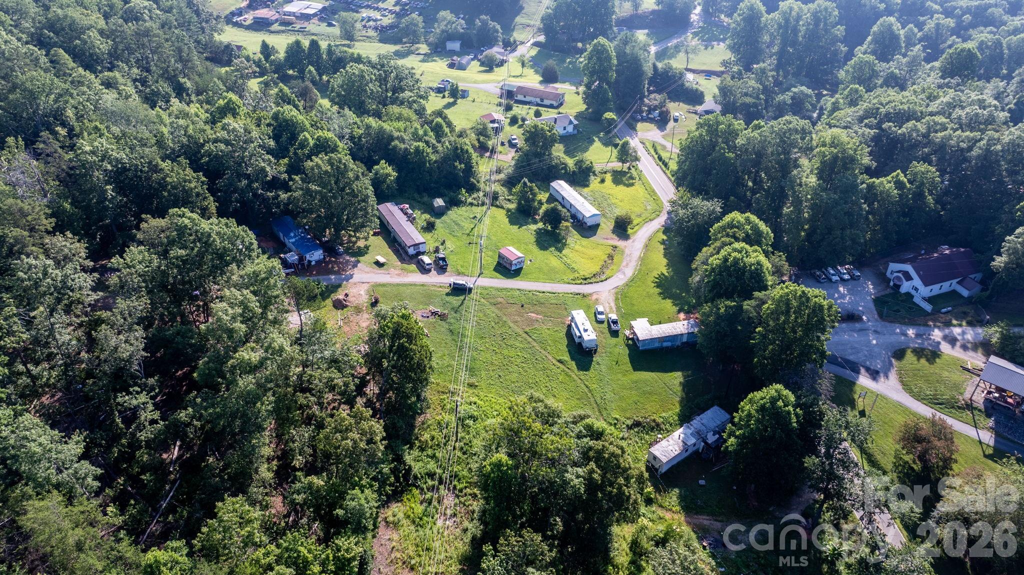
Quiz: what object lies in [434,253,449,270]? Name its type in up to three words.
vehicle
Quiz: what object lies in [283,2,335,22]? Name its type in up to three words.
barn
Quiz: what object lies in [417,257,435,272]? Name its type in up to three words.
car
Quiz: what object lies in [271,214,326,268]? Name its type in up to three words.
house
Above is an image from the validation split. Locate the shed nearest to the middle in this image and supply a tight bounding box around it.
[497,244,525,268]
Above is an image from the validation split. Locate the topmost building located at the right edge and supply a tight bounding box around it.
[883,248,997,298]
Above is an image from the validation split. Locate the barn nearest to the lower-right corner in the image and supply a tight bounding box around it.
[971,353,1024,411]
